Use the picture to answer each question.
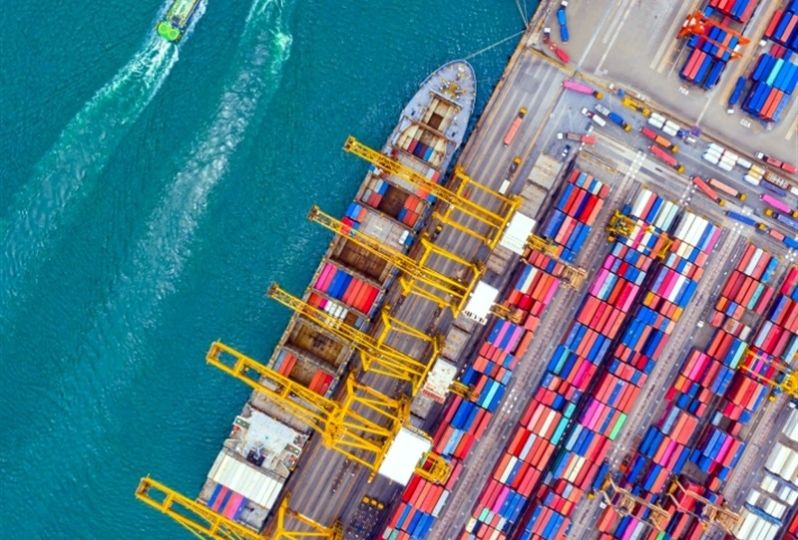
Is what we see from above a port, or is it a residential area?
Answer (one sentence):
The area seen from above is a port.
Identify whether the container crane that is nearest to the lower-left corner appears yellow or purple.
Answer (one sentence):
From above, the container crane that is nearest to the lower-left corner appears yellow.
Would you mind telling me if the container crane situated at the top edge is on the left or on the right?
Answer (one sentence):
It is on the right.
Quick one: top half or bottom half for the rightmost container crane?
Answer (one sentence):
It is in the bottom half that the rightmost container crane appears.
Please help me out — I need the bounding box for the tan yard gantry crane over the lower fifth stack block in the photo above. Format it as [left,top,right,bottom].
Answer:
[664,475,745,536]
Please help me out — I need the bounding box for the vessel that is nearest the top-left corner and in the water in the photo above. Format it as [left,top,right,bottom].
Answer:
[158,0,204,42]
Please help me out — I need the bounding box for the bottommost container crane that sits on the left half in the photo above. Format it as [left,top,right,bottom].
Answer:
[142,482,345,540]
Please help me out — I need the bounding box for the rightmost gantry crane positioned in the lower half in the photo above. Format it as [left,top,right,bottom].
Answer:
[728,346,798,397]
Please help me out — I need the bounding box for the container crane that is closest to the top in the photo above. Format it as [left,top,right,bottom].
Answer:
[666,8,756,69]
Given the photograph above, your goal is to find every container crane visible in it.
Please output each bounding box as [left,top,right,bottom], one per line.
[666,8,756,69]
[728,346,798,397]
[600,474,677,534]
[209,345,453,486]
[664,475,745,536]
[598,204,679,258]
[344,131,566,258]
[142,482,345,540]
[271,285,486,404]
[310,205,528,328]
[515,241,590,292]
